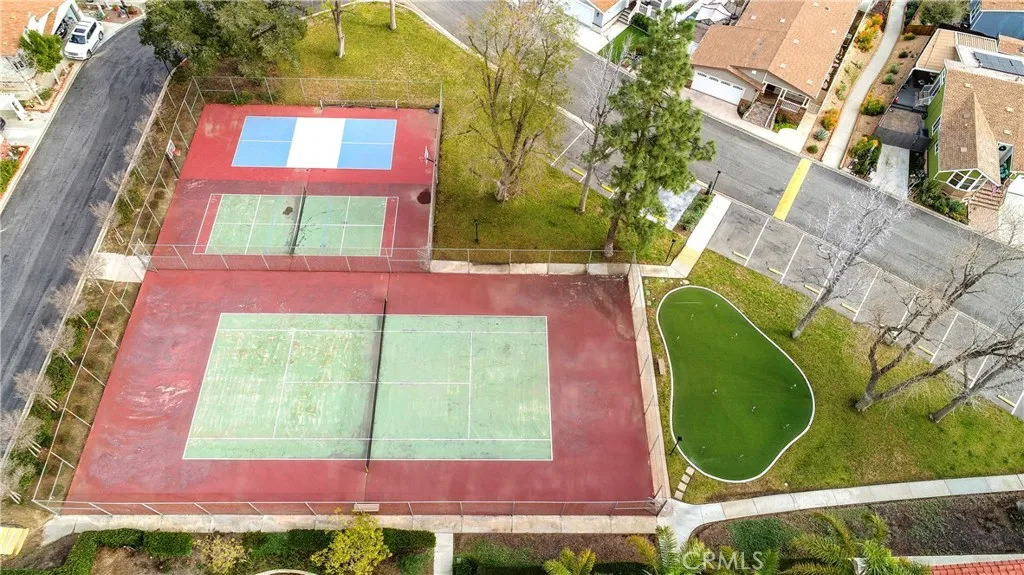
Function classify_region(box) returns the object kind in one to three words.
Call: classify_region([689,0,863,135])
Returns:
house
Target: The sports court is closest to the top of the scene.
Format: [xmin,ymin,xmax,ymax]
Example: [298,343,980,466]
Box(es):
[178,103,441,184]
